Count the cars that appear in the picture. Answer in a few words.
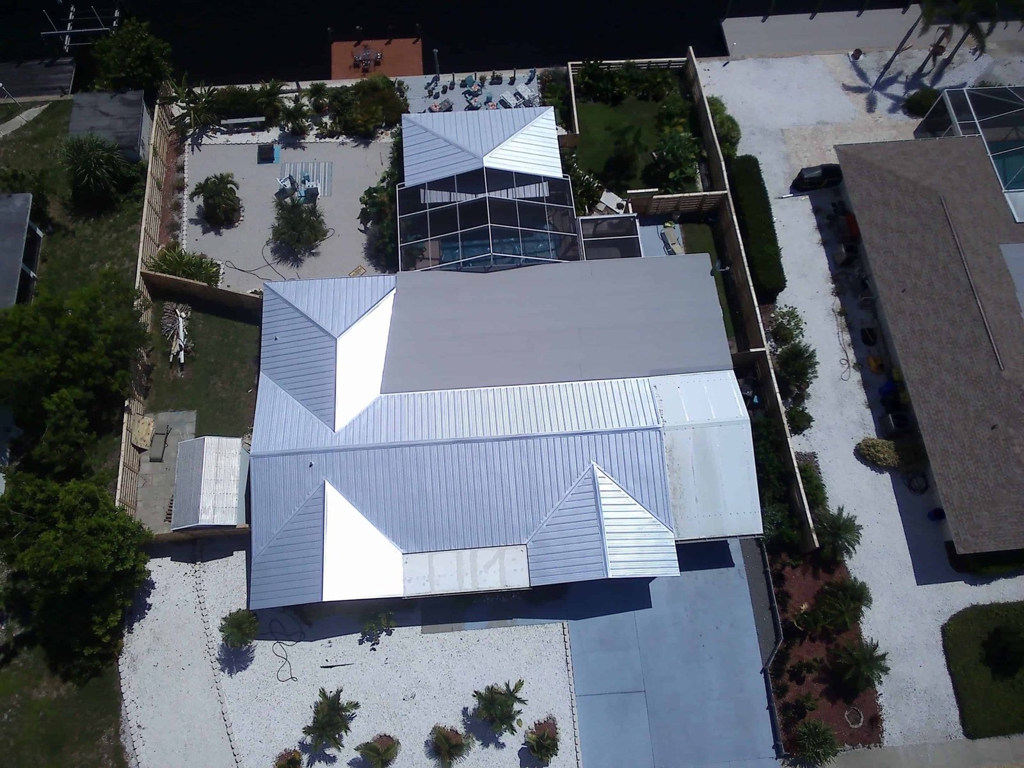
zero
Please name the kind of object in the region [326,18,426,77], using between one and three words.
pier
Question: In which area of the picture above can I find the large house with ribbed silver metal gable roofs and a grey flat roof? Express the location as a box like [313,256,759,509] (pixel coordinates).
[246,252,765,610]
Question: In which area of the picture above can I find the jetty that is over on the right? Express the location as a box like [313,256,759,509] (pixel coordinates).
[716,0,1024,56]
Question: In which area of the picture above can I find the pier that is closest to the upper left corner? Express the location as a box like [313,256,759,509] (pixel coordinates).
[0,40,77,93]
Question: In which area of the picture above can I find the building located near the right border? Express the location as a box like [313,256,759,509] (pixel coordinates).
[837,136,1024,556]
